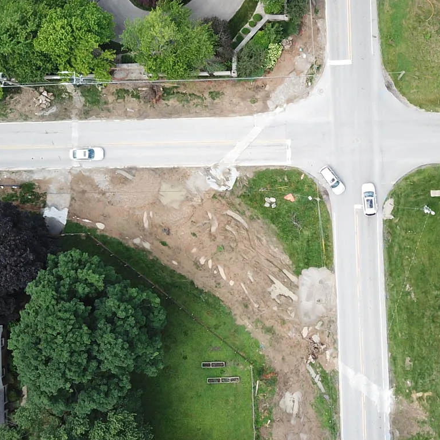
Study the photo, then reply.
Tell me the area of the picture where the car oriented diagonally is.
right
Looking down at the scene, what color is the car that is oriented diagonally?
white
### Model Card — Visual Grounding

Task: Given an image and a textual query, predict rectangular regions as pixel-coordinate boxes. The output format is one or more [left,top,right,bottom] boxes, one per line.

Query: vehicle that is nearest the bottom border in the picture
[361,183,378,215]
